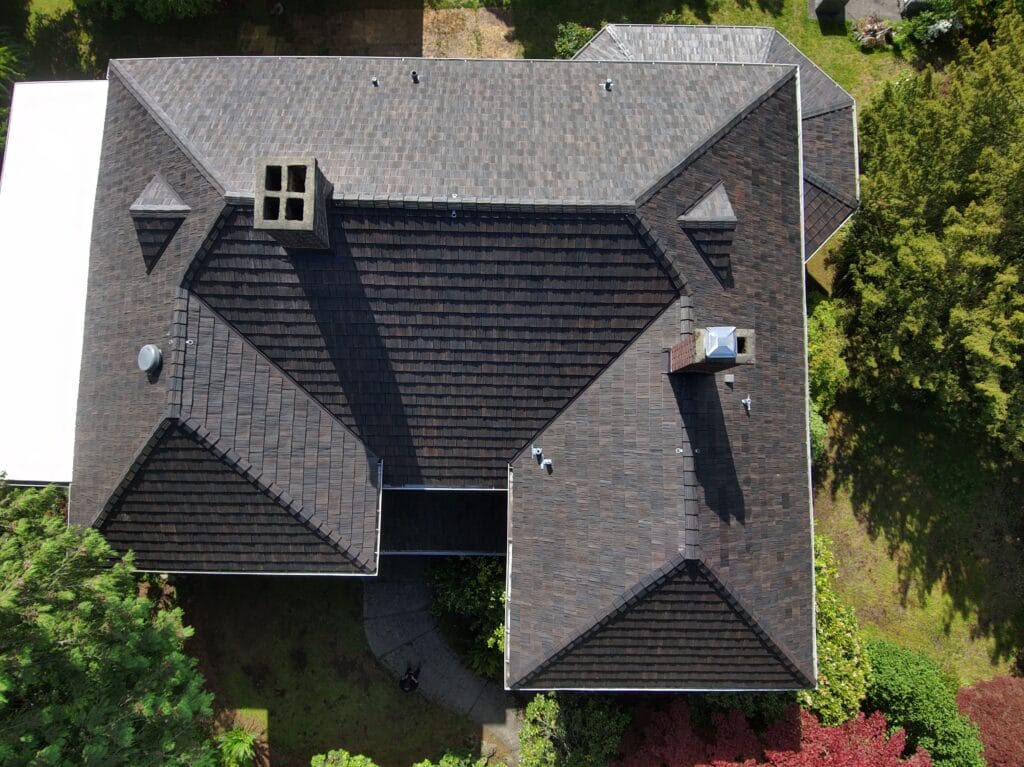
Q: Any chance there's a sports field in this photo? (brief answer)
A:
No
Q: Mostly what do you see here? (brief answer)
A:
buildings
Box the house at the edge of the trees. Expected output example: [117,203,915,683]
[0,22,863,694]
